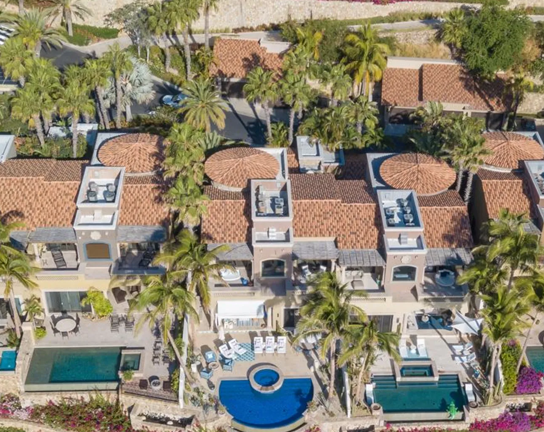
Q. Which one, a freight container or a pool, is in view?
pool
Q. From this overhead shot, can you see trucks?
No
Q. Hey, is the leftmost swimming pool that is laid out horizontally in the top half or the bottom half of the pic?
bottom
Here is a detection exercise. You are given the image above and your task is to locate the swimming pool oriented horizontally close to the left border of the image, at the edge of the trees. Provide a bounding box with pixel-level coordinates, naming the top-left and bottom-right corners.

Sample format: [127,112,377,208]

[24,344,126,393]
